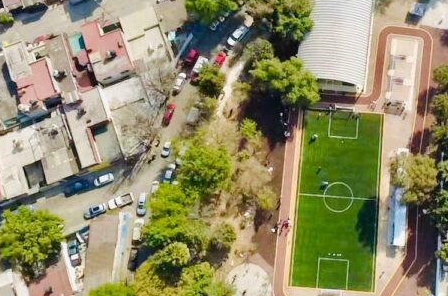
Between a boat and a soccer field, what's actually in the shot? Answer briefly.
soccer field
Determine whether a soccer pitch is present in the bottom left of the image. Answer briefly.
No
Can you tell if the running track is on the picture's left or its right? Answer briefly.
right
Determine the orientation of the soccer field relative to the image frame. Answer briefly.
from top to bottom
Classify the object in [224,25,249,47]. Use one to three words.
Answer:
truck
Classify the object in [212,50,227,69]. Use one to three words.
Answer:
car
